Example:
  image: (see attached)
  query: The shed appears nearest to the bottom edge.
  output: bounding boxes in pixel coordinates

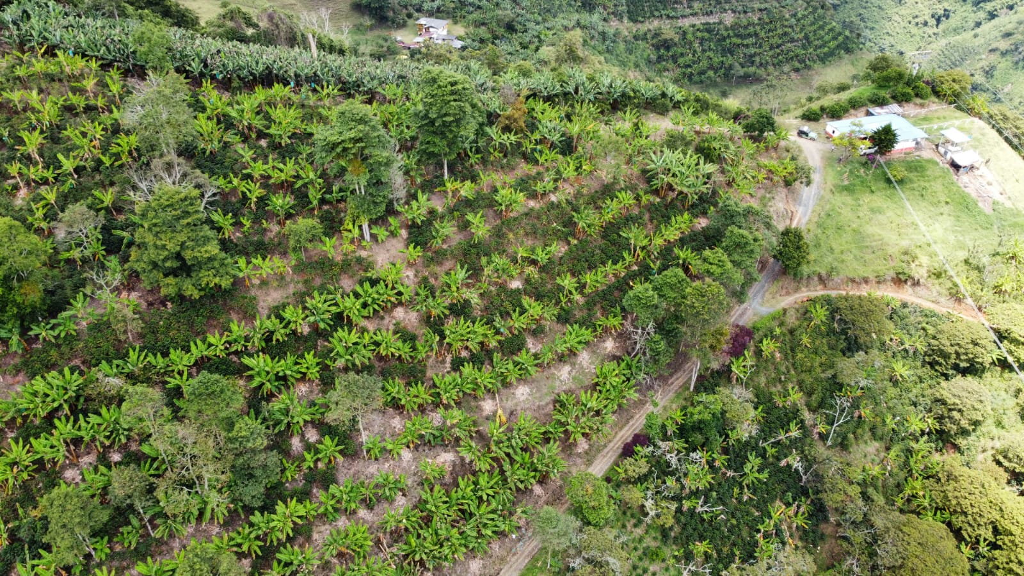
[945,149,989,180]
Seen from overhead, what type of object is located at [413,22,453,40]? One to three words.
house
